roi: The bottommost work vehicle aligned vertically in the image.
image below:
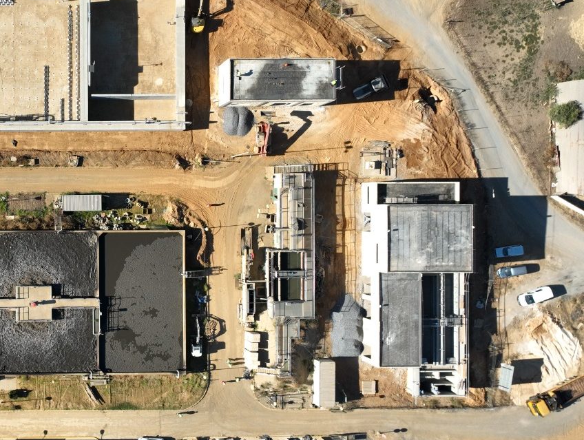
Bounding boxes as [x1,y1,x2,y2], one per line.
[188,320,202,356]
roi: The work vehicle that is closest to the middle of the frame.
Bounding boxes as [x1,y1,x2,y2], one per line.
[251,114,274,156]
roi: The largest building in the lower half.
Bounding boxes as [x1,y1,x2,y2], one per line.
[351,182,474,399]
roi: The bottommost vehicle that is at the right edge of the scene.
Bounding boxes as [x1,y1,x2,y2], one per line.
[515,366,584,417]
